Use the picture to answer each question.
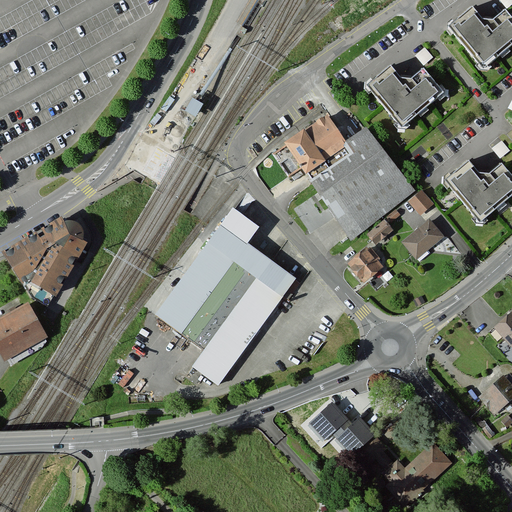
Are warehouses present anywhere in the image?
Yes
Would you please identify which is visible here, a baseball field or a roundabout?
roundabout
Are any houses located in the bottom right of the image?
Yes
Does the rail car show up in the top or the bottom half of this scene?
top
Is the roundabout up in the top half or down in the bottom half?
bottom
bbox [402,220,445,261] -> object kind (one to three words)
house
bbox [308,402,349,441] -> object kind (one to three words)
house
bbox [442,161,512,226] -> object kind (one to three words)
building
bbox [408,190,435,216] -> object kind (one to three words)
building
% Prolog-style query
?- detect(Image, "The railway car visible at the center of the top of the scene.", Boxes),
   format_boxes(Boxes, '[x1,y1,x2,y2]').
[242,0,263,28]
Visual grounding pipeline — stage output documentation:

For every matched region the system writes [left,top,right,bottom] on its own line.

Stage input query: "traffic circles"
[362,316,427,377]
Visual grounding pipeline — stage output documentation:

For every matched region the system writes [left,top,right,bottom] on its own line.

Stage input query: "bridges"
[0,430,88,453]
